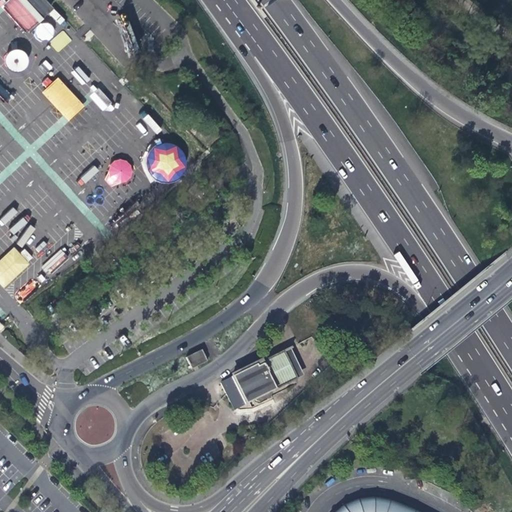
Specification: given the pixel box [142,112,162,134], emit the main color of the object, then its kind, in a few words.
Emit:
white truck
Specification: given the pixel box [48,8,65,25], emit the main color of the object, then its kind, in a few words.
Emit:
white vehicle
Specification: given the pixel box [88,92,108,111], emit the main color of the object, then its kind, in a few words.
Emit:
white vehicle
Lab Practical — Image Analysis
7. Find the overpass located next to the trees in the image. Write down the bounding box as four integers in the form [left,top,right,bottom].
[216,246,512,512]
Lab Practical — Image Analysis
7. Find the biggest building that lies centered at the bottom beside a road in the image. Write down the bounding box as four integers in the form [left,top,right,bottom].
[221,358,278,409]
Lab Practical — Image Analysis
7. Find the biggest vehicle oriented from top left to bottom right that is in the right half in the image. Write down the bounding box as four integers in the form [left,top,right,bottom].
[394,252,422,289]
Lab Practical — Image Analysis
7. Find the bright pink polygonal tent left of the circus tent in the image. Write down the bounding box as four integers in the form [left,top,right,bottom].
[105,159,134,187]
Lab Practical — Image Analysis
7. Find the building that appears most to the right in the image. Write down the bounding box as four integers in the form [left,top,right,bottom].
[268,346,304,388]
